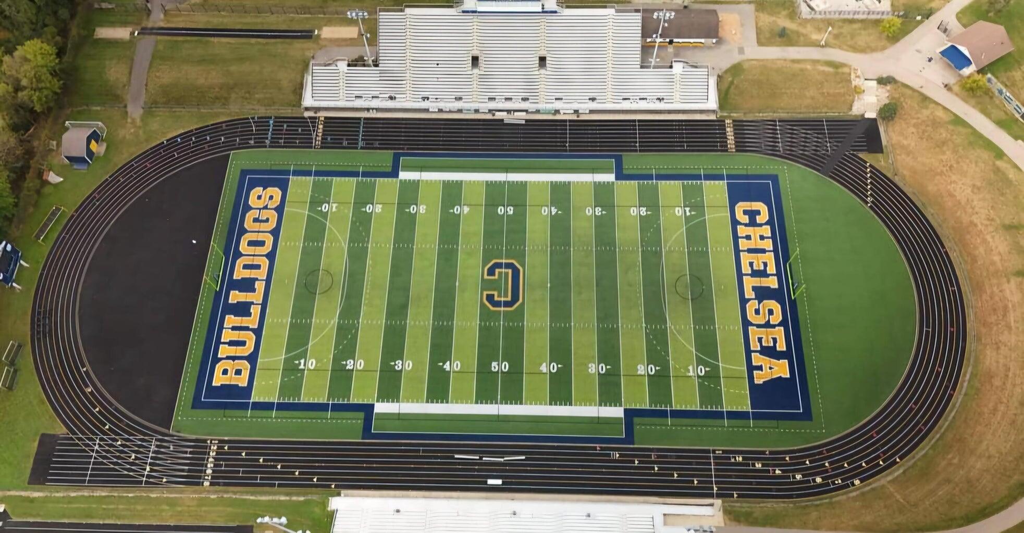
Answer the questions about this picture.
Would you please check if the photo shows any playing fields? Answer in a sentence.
Yes, there is a playing field in the image.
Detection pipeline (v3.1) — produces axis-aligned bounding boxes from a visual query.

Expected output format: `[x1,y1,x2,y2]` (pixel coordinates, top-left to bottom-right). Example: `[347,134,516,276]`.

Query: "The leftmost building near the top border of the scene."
[643,10,721,47]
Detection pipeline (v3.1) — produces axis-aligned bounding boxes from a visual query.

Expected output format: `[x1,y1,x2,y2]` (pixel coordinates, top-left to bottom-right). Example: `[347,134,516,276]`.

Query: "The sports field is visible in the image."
[252,177,750,410]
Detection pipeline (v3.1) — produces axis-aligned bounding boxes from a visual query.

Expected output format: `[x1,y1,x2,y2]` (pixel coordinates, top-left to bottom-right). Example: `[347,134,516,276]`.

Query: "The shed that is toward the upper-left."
[59,125,107,166]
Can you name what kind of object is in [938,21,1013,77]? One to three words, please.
building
